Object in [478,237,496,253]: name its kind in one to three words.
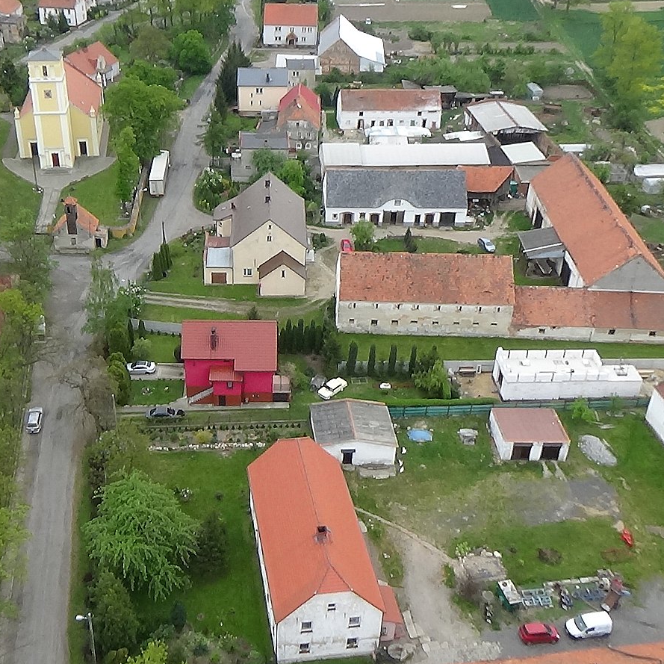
car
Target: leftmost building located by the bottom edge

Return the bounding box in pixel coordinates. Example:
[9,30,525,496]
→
[246,435,390,664]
